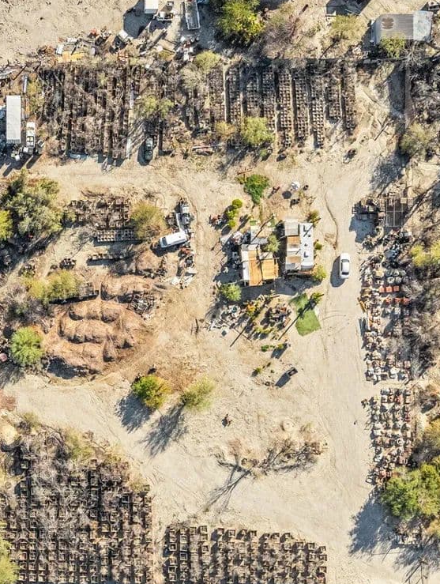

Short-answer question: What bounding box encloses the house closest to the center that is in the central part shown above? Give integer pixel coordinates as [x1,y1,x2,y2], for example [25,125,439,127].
[237,226,276,287]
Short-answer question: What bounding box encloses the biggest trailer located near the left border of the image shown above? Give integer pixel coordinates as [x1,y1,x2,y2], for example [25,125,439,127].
[6,93,21,148]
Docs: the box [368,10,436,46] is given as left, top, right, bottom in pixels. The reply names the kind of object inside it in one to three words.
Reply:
house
